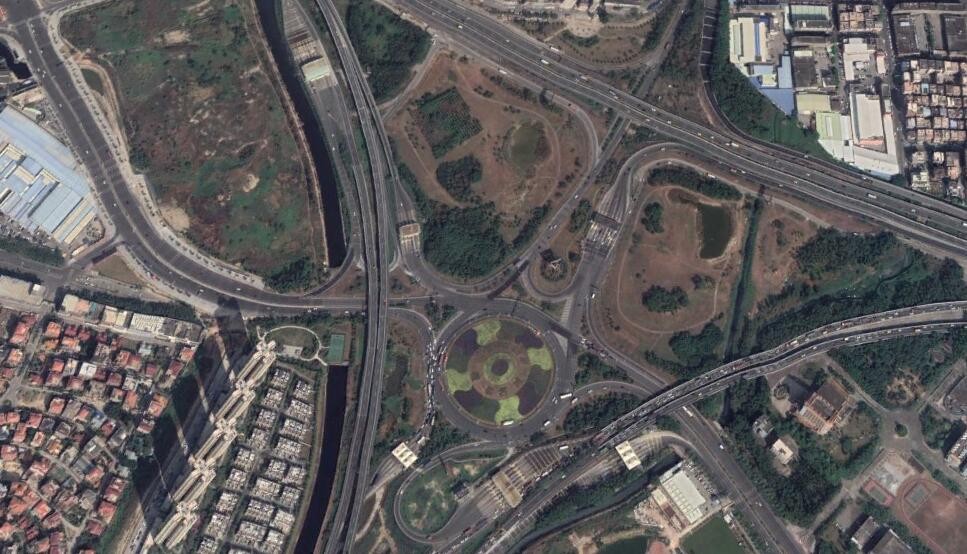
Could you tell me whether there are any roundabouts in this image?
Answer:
Yes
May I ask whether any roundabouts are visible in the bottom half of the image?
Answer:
Yes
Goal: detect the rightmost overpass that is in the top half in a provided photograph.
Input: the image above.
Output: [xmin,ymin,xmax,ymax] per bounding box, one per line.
[608,86,666,130]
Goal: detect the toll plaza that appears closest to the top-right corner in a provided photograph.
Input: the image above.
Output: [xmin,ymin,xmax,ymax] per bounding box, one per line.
[586,203,625,243]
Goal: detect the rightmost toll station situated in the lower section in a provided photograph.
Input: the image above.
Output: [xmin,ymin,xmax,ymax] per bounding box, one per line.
[610,441,644,472]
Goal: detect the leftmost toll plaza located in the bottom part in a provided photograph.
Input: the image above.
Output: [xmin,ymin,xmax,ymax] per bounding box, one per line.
[389,442,420,470]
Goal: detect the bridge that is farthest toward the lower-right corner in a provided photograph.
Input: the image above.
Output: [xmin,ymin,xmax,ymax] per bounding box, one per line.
[591,301,967,445]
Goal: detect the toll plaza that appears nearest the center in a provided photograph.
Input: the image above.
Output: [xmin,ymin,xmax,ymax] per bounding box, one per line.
[399,219,419,244]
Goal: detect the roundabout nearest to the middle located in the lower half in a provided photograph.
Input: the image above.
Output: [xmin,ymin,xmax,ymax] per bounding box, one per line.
[427,297,573,443]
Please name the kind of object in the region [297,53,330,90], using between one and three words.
toll station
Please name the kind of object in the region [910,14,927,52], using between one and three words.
building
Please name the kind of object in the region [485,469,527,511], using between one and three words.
toll station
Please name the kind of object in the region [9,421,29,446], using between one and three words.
house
